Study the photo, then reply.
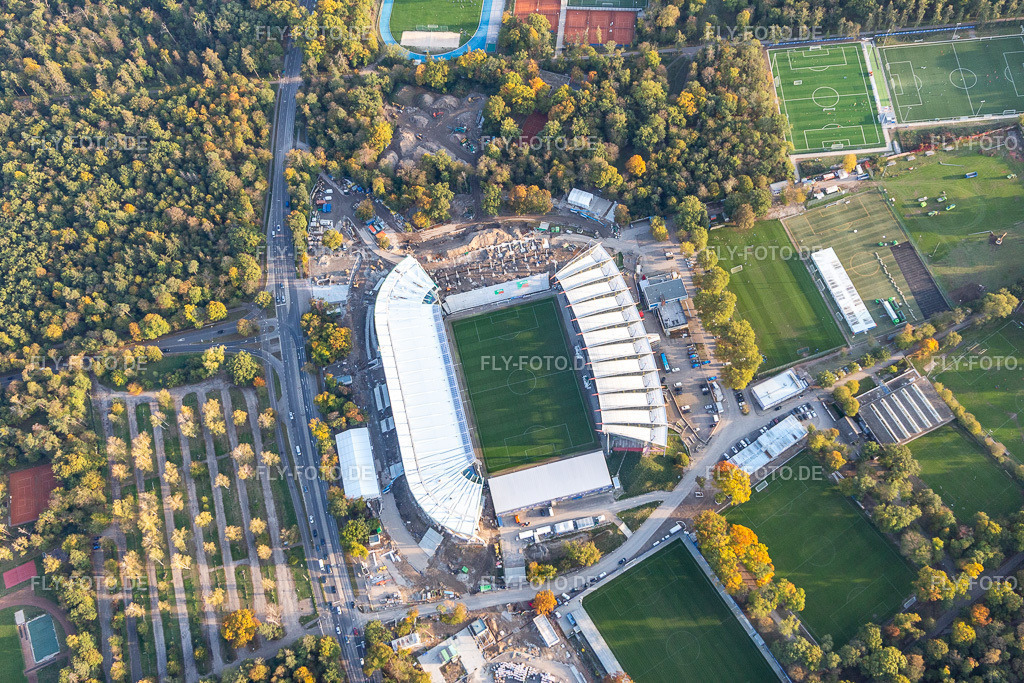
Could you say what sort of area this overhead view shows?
sports ground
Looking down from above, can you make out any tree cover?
Yes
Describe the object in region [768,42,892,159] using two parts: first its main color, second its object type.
green soccer field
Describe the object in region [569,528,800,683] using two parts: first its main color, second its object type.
green soccer field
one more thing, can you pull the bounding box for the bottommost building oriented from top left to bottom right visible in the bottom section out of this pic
[532,614,559,646]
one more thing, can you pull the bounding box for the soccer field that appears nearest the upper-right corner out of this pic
[876,33,1024,126]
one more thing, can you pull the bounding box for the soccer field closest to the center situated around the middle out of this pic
[443,280,607,479]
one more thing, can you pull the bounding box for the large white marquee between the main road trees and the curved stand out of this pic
[335,428,381,501]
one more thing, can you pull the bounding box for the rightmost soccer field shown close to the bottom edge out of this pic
[717,457,925,658]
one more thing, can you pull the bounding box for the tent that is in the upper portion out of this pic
[567,189,594,209]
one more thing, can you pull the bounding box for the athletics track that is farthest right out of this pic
[379,0,508,58]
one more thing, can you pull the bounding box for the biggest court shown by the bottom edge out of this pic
[25,615,58,662]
